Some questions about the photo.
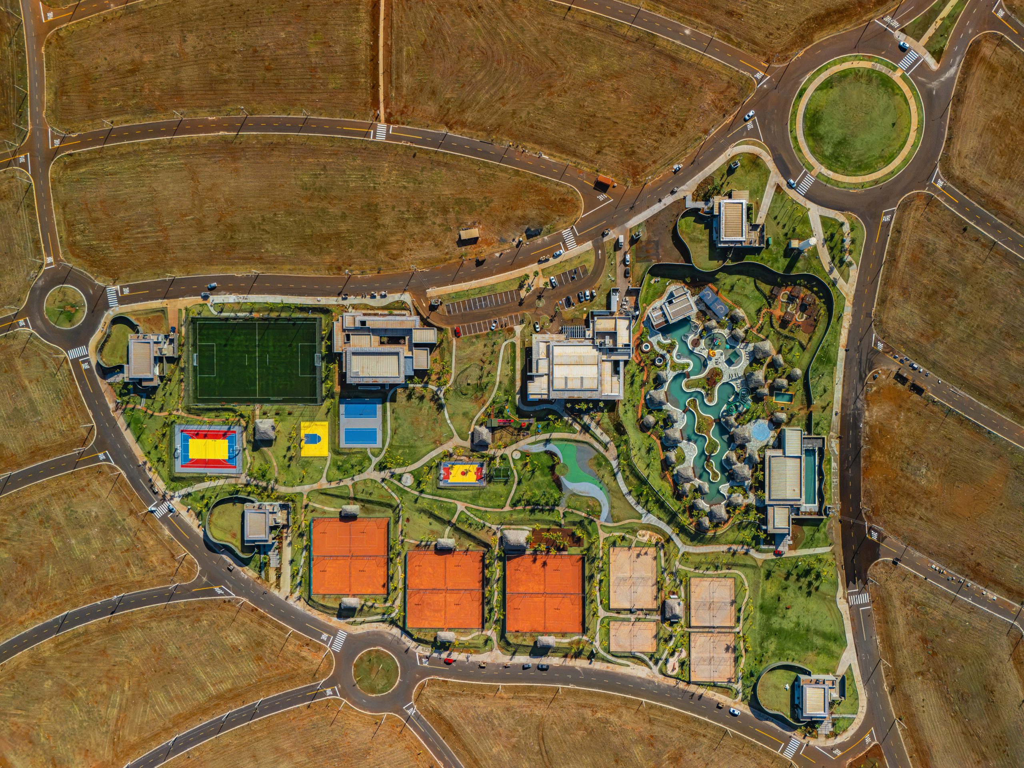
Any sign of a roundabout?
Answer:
Yes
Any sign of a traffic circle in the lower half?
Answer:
Yes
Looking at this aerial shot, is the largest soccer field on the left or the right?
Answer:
left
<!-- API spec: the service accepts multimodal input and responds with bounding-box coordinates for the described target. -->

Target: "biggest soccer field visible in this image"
[187,317,321,405]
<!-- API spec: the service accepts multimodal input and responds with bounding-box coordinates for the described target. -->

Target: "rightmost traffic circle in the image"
[789,53,925,190]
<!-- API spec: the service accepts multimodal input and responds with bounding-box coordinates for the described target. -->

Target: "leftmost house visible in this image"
[125,333,182,385]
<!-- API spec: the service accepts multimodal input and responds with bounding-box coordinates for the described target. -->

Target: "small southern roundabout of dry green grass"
[352,647,400,695]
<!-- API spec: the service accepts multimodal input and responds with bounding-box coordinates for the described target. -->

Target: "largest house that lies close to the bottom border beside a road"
[794,671,846,734]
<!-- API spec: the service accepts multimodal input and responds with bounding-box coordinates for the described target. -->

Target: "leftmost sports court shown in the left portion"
[172,424,243,474]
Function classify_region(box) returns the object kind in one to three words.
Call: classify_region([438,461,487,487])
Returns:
sports court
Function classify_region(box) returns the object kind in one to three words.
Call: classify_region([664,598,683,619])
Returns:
shed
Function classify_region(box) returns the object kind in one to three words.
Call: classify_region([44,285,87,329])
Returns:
roundabout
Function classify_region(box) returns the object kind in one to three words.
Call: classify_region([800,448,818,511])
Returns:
swimming pool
